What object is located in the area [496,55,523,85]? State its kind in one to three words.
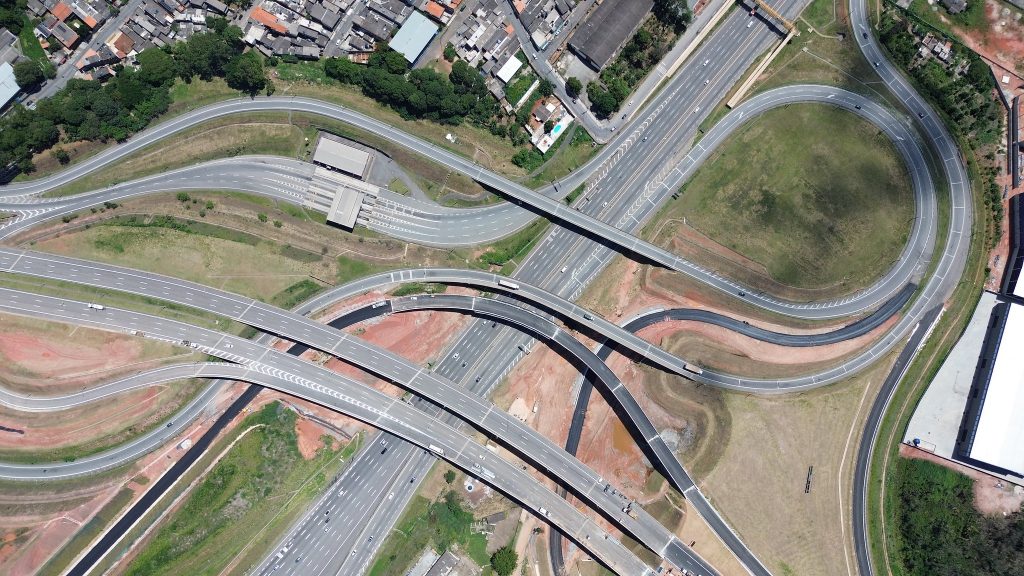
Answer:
house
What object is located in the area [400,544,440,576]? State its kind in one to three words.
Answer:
shed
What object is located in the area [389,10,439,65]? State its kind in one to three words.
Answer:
building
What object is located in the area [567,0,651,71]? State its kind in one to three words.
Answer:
building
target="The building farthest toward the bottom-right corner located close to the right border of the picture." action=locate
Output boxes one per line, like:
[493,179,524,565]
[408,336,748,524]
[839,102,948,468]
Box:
[954,302,1024,475]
